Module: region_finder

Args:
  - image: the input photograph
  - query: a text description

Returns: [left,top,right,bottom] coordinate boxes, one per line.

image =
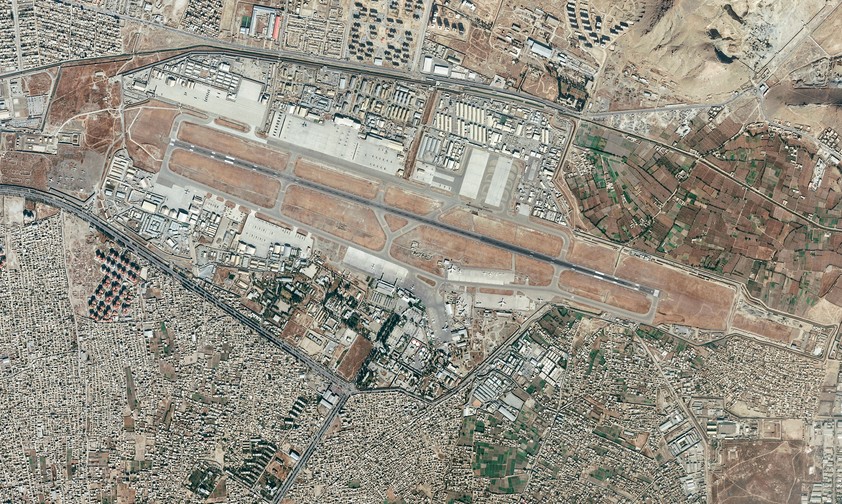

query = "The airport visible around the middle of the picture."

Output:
[125,72,830,356]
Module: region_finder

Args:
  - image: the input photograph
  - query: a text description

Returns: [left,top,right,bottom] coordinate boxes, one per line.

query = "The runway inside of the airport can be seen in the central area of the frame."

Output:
[170,138,659,297]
